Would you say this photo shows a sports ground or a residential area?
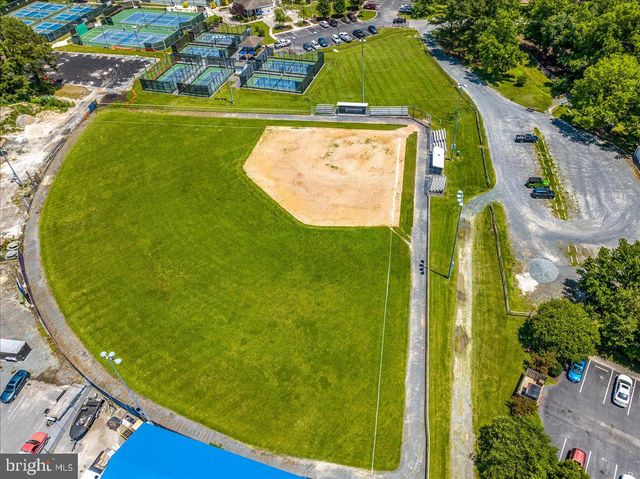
sports ground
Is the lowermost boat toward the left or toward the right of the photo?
left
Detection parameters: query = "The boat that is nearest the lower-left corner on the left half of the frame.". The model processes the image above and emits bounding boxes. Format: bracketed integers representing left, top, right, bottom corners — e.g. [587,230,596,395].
[71,393,104,440]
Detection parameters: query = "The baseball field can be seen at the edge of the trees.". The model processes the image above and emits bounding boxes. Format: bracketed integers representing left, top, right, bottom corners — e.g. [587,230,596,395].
[21,106,429,479]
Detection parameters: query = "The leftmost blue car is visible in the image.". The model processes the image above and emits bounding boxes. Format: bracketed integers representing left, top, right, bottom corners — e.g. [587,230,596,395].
[0,372,29,405]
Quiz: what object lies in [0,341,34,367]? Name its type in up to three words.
trailer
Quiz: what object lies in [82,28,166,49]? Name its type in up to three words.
tennis court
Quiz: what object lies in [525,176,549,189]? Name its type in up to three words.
vehicle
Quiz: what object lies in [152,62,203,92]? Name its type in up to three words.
sports court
